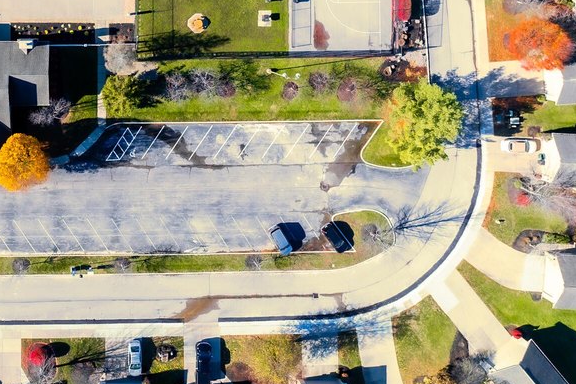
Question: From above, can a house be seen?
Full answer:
Yes, I can see a house in this picture.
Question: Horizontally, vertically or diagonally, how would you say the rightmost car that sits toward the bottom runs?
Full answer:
Seen from above, the rightmost car that sits toward the bottom lies diagonally.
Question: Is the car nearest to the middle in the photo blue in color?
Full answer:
Yes, the car nearest to the middle is blue.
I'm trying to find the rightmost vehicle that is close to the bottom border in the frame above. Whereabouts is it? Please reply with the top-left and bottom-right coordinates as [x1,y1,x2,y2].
[197,344,215,384]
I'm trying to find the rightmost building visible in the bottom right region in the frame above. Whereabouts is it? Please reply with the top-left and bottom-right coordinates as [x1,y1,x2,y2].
[543,250,576,309]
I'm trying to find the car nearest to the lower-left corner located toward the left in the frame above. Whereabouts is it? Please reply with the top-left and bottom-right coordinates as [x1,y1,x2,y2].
[127,343,143,378]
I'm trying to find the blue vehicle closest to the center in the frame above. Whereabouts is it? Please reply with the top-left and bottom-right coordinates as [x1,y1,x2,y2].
[270,224,295,257]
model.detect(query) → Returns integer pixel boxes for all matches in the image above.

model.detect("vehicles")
[500,138,539,156]
[127,343,143,378]
[197,344,215,384]
[270,224,295,257]
[321,223,351,256]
